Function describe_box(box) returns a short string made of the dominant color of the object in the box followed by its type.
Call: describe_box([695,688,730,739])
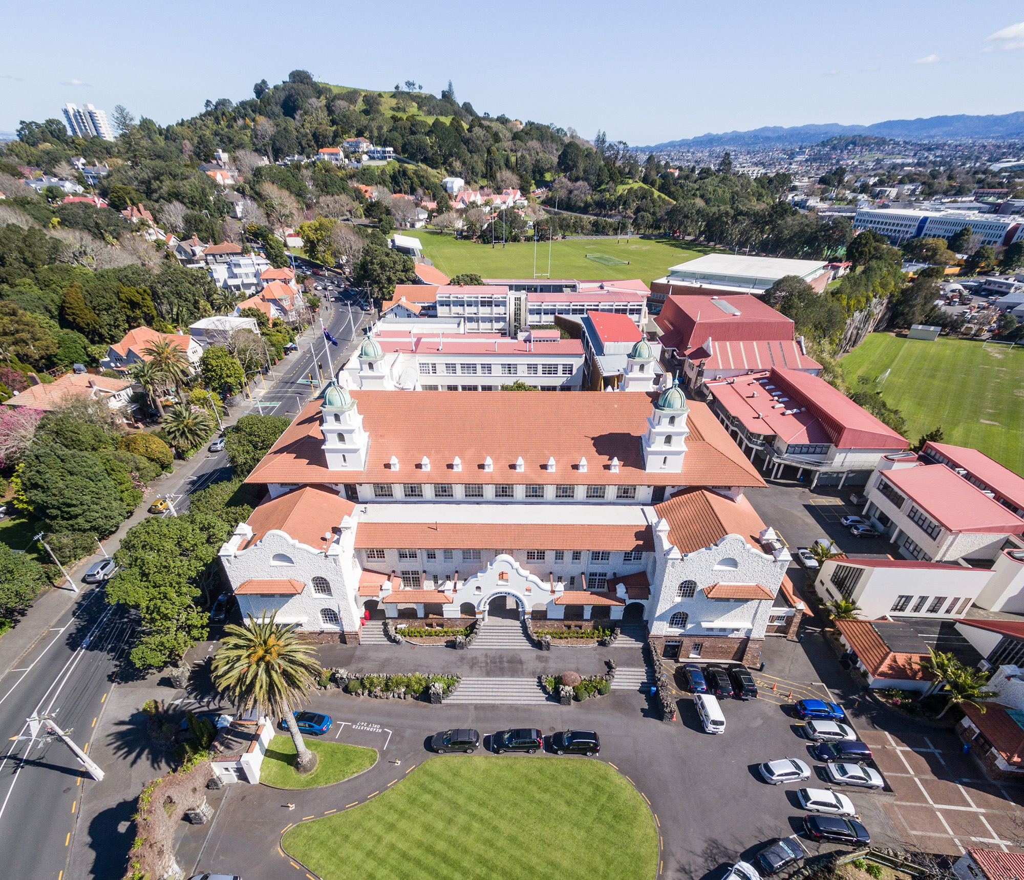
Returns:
white vehicle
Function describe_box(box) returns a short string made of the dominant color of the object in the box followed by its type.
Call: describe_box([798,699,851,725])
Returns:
blue car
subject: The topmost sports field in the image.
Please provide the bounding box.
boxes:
[361,227,736,289]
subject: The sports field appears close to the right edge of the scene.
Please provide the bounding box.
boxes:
[840,333,1024,460]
